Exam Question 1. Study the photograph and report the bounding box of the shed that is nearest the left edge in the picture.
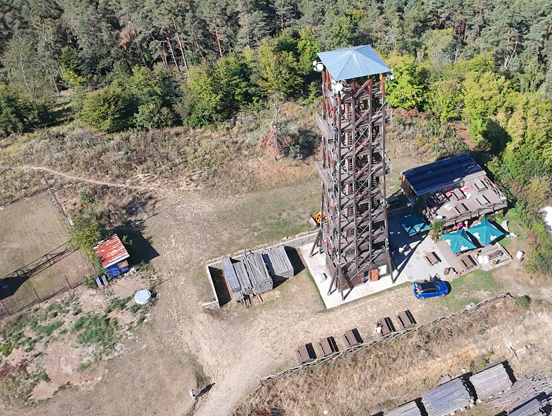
[91,234,130,279]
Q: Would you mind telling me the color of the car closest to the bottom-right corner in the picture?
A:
blue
